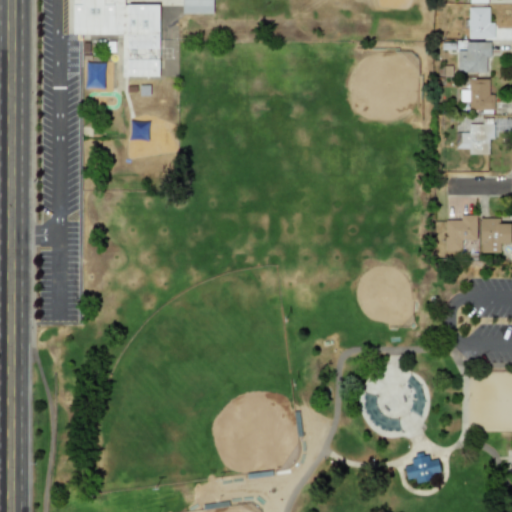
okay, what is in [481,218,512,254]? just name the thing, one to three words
house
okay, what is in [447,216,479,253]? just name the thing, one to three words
house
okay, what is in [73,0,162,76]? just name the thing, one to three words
building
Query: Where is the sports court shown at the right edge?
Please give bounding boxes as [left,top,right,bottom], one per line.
[469,372,512,432]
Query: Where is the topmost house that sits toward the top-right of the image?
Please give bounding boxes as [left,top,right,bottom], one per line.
[470,6,497,39]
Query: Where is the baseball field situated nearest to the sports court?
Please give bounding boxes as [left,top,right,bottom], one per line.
[356,266,416,328]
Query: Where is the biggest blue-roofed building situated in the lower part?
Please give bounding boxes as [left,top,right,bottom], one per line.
[406,452,444,486]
